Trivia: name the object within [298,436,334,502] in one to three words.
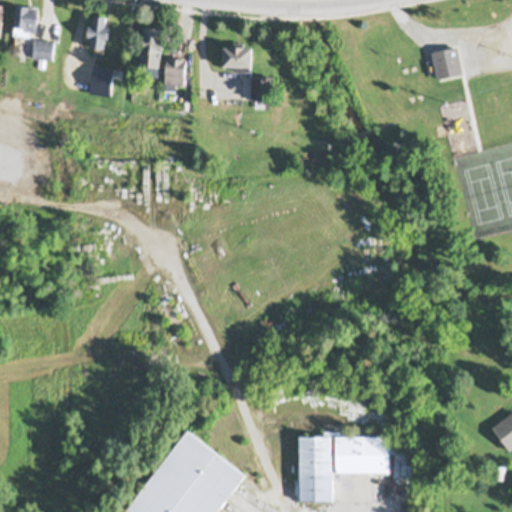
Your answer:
shed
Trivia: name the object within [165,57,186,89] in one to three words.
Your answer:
house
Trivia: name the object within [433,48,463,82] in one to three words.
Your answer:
building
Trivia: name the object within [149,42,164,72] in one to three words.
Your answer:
house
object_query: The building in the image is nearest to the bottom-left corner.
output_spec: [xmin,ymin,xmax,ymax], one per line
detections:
[128,432,245,512]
